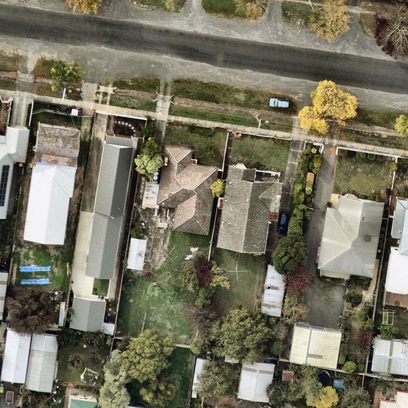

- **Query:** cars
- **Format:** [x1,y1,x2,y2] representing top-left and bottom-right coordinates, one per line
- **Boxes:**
[277,213,289,235]
[268,99,290,109]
